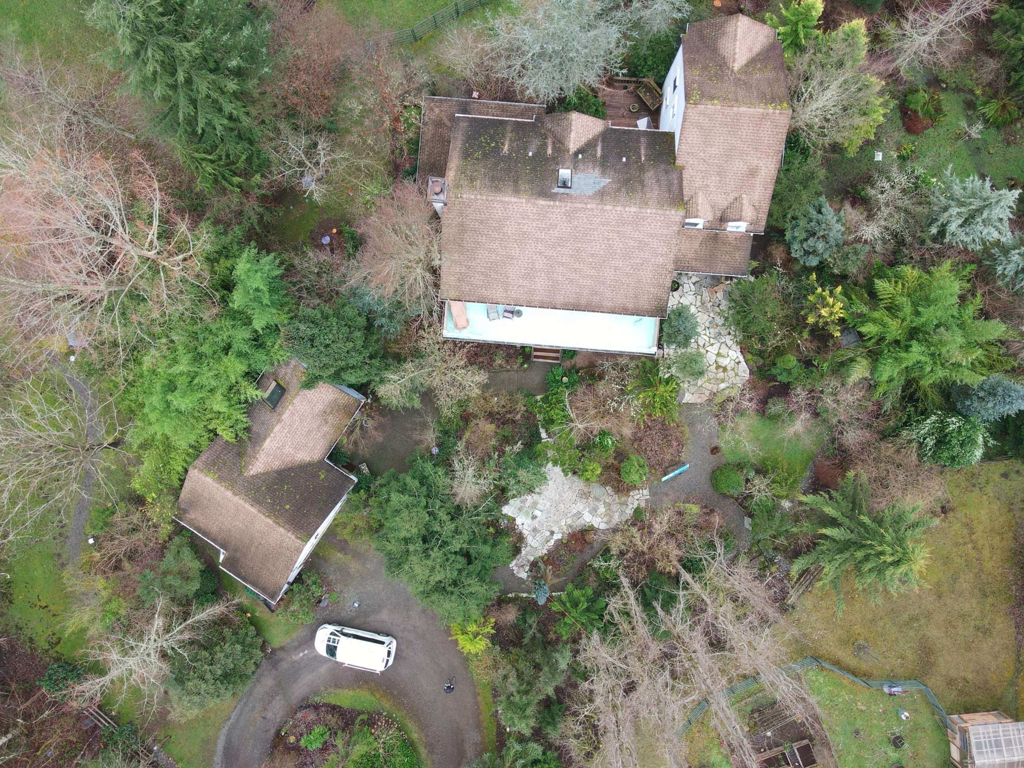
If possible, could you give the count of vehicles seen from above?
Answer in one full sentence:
I count just 1 vehicle.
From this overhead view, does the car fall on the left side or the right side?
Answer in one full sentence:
The car appears in the left half of the scene.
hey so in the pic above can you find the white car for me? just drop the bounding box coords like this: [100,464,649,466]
[311,624,397,679]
